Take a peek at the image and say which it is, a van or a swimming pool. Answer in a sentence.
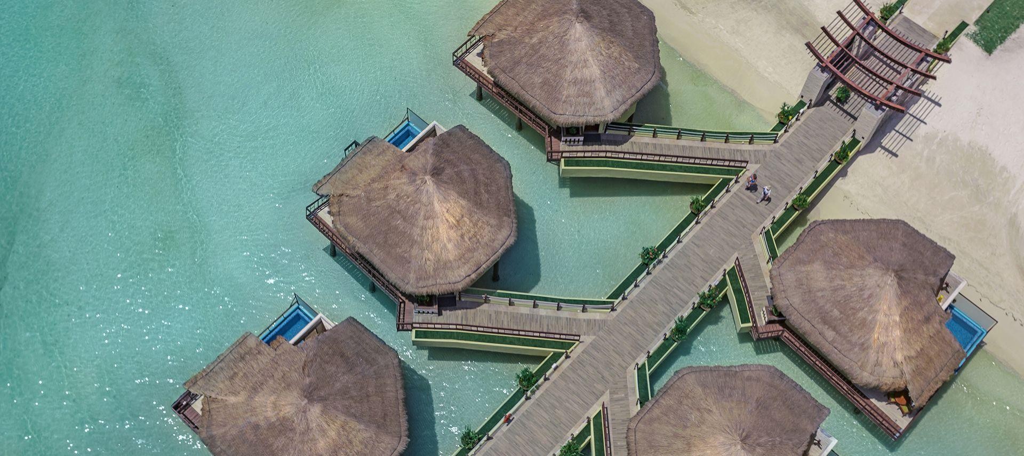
There is a swimming pool in the scene.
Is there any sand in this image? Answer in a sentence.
Yes, some sand is visible.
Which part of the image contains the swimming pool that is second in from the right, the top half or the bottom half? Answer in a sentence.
The top half of the photo is where the swimming pool that is second in from the right is.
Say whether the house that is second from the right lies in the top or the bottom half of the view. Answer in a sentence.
The house that is second from the right is in the bottom half of the image.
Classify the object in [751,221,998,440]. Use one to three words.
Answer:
house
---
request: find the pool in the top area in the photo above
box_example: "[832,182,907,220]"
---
[386,119,425,148]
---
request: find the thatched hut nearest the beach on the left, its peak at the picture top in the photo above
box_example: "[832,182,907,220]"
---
[455,0,662,164]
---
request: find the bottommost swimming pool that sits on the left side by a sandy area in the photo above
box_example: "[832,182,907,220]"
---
[252,297,317,346]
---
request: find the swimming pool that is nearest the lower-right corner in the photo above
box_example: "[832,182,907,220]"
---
[944,303,993,385]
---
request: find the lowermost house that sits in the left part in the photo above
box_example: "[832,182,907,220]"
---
[172,288,411,456]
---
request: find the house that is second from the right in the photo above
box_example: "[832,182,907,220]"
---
[612,366,837,456]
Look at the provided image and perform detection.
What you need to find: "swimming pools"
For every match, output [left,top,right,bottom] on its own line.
[944,303,993,385]
[252,297,317,346]
[386,119,425,148]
